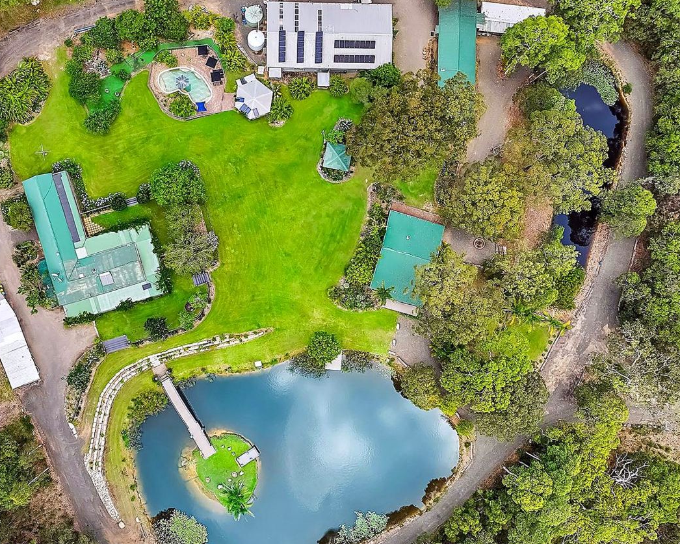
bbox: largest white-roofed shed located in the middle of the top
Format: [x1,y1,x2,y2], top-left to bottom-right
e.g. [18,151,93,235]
[263,1,392,89]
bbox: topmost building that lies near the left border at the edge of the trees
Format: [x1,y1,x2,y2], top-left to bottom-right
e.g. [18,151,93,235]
[22,171,164,317]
